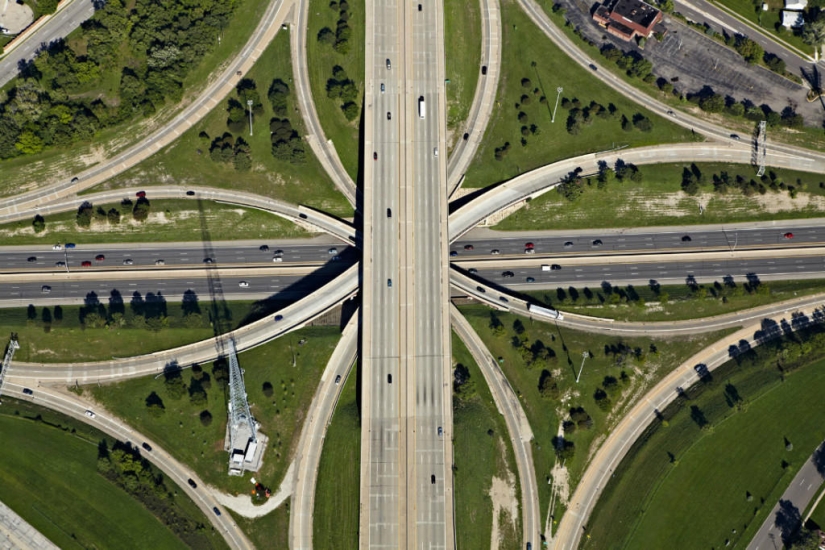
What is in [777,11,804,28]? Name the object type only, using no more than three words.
house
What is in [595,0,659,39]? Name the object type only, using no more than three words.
building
